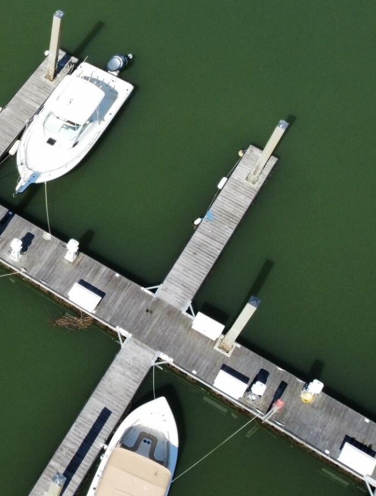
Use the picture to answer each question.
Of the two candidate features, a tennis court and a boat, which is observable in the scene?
boat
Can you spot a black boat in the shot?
No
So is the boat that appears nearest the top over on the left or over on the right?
left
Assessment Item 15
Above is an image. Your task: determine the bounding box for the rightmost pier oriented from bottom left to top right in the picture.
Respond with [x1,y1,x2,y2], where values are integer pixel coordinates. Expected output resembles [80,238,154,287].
[141,146,277,318]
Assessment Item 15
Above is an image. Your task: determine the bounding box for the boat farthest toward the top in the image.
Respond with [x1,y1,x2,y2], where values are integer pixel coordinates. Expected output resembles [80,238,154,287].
[12,53,134,186]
